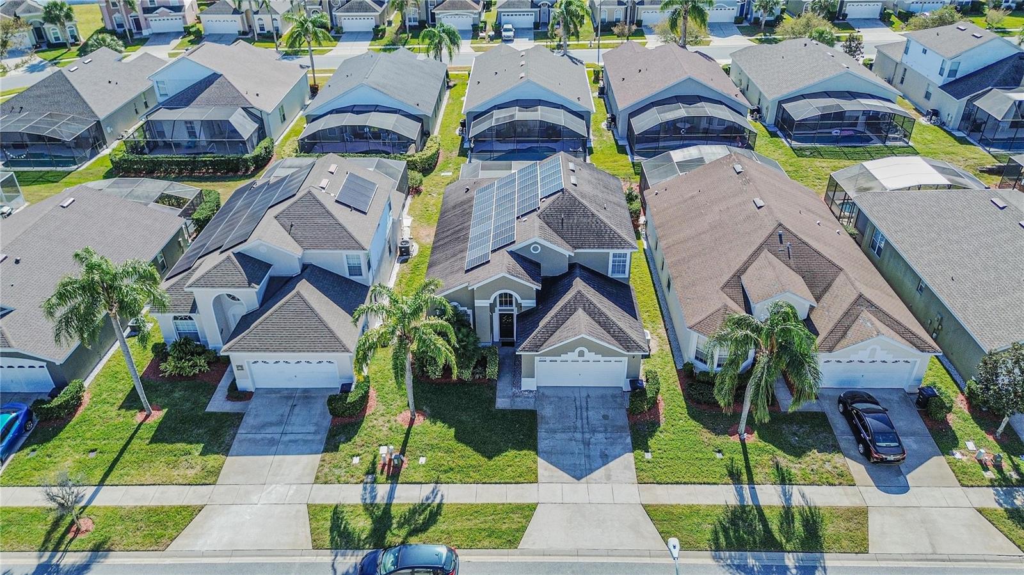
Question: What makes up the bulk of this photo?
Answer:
buildings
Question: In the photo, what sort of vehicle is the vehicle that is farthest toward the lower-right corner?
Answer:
automobile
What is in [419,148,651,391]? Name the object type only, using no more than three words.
house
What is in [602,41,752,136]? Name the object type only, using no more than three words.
house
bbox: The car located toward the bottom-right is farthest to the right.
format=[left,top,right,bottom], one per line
[842,393,910,462]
